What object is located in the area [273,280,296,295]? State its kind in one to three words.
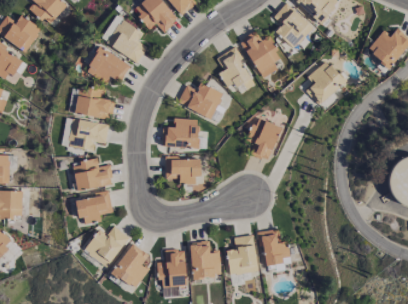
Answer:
swimming pool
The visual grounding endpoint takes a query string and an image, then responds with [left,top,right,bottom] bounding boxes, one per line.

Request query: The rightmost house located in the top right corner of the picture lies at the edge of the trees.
[371,30,408,74]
